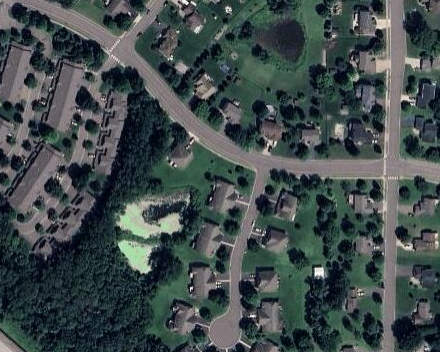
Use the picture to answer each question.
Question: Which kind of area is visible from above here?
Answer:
residential area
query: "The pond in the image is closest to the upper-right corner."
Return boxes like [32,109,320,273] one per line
[254,18,306,61]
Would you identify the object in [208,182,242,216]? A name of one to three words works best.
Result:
house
